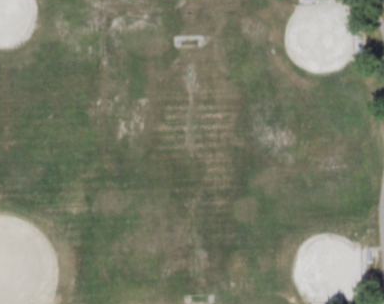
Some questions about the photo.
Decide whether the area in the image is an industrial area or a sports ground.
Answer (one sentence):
It's a sports ground.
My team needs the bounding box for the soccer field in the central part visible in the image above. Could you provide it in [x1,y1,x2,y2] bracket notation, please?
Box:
[146,35,242,304]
